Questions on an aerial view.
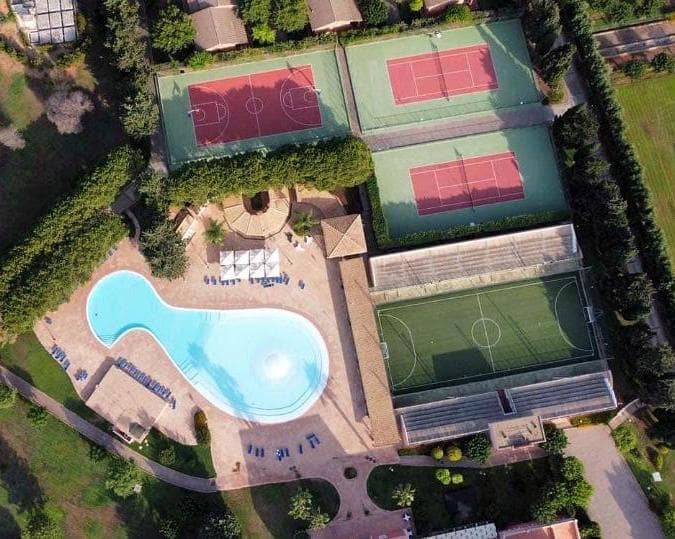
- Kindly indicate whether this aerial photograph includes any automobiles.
No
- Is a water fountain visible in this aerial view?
Yes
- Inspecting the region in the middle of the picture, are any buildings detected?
Yes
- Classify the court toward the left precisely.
basketball court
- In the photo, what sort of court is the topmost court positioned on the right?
tennis court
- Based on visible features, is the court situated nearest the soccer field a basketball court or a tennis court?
tennis court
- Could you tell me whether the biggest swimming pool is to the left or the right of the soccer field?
left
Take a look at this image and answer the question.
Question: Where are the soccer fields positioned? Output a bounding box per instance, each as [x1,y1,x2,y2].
[373,270,601,397]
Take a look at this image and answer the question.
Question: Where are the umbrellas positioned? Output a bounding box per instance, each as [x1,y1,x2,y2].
[235,265,250,279]
[266,264,280,278]
[221,266,235,280]
[220,251,235,266]
[250,264,265,279]
[265,249,279,264]
[250,250,264,264]
[235,250,250,265]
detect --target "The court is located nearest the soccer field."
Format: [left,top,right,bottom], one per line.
[372,121,571,247]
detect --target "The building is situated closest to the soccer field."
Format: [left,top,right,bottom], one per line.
[339,256,399,446]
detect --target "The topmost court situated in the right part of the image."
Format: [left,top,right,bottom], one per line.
[345,18,543,133]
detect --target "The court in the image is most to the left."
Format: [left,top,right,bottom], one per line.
[156,49,351,167]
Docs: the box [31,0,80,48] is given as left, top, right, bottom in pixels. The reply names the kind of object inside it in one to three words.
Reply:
building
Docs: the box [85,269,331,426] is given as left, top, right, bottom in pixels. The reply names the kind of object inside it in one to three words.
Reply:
swimming pool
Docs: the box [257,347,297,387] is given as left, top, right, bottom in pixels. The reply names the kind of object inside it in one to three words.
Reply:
fountain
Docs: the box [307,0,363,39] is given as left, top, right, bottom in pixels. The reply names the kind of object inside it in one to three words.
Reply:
house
